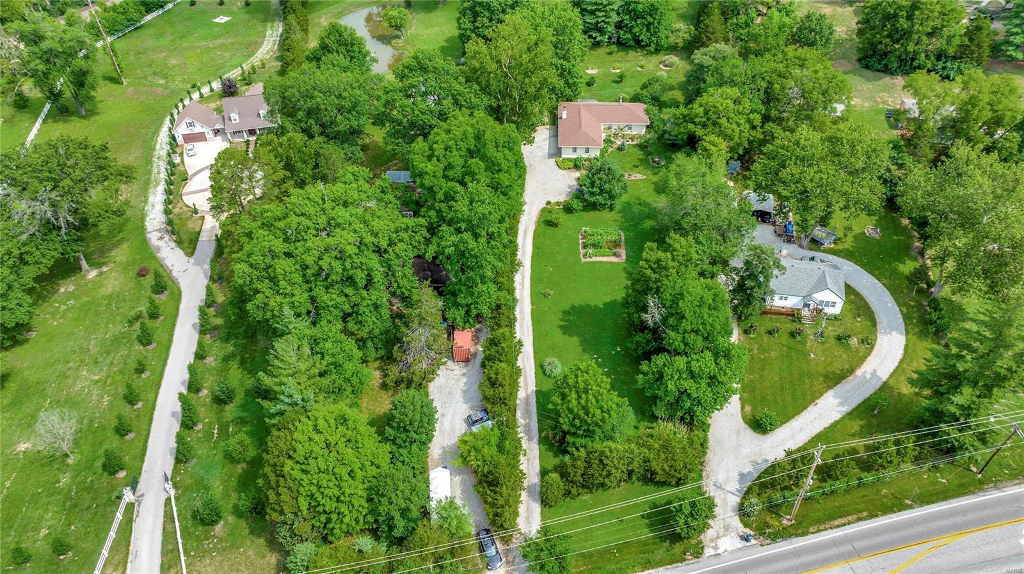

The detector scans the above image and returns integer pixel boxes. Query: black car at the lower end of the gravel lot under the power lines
[476,528,503,571]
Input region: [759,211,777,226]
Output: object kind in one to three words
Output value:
car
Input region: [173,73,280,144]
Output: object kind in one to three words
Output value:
house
